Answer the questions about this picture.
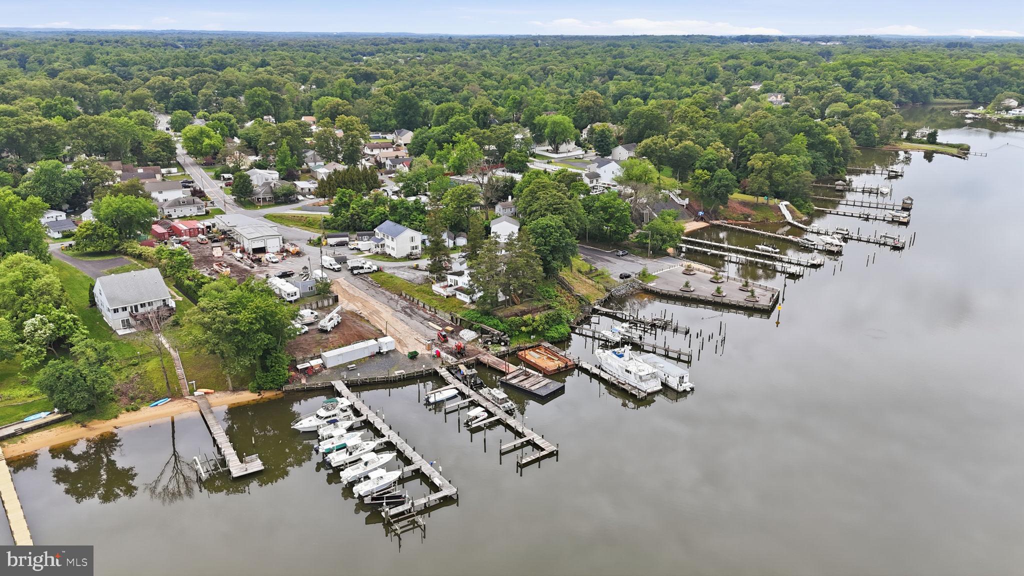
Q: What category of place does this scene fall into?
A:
port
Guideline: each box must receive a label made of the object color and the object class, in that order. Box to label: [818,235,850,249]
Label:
white boat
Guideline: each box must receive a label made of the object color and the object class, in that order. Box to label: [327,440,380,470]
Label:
white boat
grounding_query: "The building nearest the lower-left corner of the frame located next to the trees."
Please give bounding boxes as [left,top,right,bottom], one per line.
[100,268,178,333]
